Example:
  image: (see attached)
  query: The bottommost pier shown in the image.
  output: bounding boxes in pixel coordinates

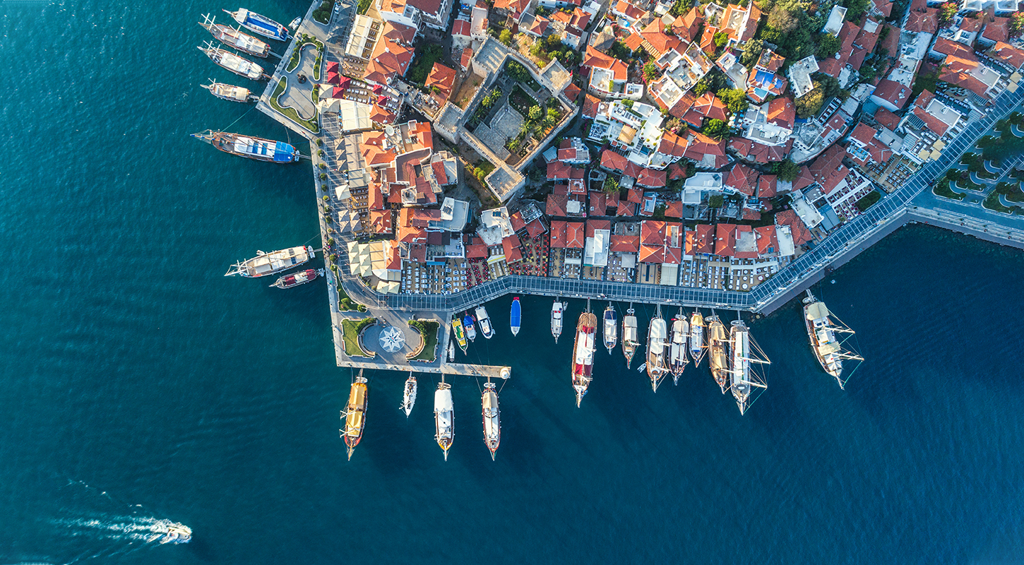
[443,363,511,378]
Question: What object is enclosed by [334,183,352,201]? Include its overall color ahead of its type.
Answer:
white umbrella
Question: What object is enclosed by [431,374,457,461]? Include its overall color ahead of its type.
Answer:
white boat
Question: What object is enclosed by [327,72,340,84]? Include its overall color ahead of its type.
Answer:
red umbrella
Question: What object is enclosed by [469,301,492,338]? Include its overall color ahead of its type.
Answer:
white boat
